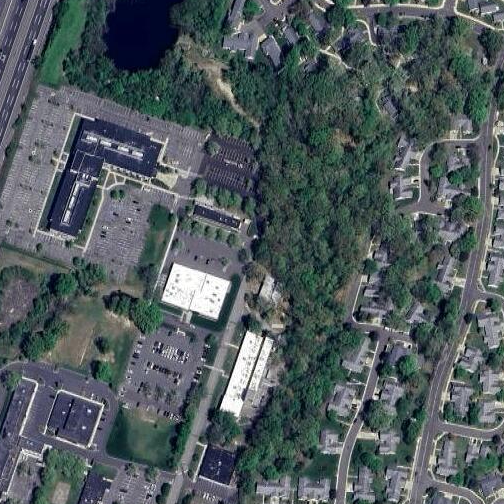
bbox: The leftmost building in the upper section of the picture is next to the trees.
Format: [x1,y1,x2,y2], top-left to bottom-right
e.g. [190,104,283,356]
[49,117,164,240]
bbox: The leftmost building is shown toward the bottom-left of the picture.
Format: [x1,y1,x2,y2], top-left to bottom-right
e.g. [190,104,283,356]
[0,381,46,499]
